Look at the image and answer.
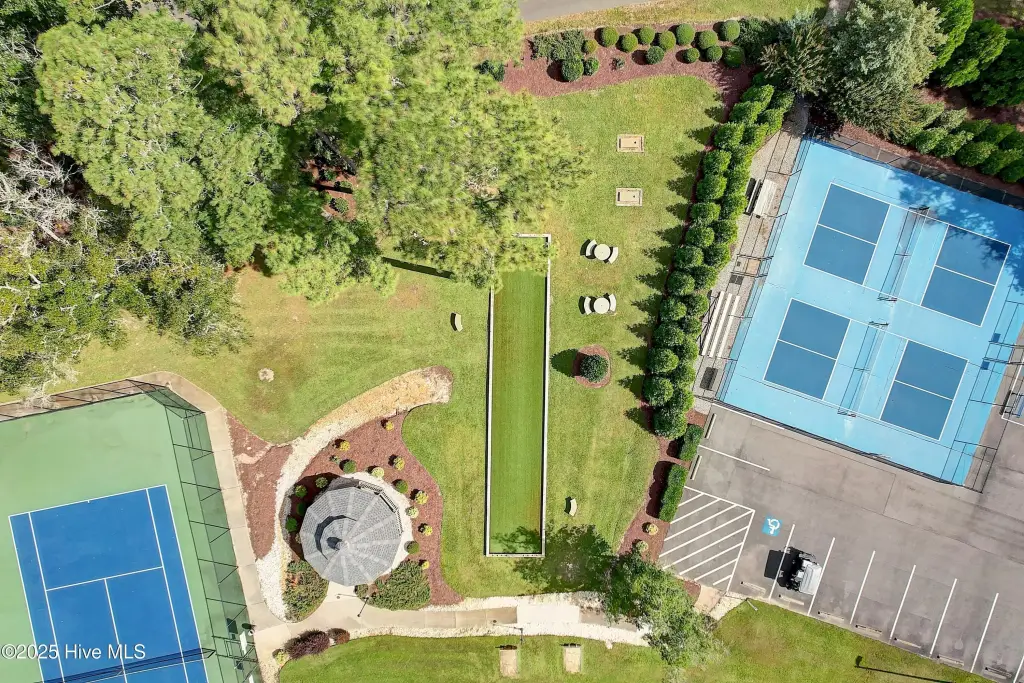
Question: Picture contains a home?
No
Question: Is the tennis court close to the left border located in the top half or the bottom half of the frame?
bottom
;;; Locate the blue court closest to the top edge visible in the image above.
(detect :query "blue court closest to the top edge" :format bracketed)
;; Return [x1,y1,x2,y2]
[761,138,1024,354]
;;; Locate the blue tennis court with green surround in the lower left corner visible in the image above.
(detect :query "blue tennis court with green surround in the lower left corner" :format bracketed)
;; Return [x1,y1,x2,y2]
[0,387,264,683]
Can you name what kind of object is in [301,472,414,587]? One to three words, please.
gazebo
